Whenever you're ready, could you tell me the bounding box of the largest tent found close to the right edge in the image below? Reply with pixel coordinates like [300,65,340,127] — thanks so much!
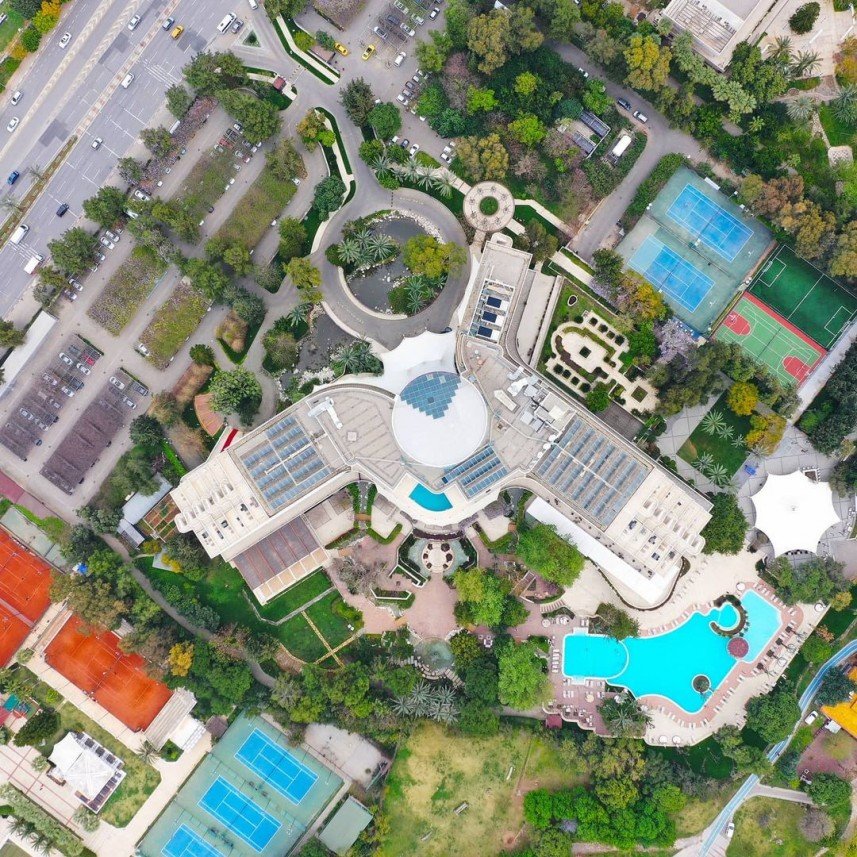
[746,470,840,557]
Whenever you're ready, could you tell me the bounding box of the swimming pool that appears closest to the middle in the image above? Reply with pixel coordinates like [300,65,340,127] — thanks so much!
[408,483,454,511]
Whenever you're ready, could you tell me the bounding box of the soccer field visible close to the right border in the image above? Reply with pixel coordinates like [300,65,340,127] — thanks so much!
[744,239,857,356]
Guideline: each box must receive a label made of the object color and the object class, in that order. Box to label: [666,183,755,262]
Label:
blue tennis court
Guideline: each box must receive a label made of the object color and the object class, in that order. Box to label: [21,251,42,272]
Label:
white vehicle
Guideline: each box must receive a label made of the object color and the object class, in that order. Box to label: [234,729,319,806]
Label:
blue tennis court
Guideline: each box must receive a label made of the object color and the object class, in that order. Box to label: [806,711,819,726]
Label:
white vehicle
